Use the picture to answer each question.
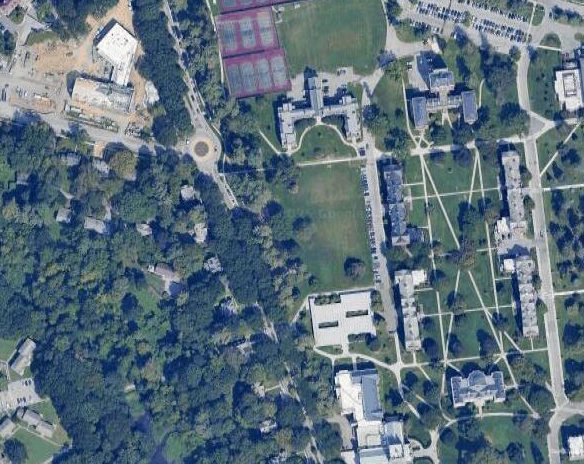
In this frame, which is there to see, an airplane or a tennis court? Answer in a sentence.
Visible in the photo is a tennis court.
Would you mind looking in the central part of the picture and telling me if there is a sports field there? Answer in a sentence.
Yes, a sports field is visible in the central part of the picture.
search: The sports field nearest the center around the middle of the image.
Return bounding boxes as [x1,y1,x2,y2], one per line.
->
[275,159,382,294]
